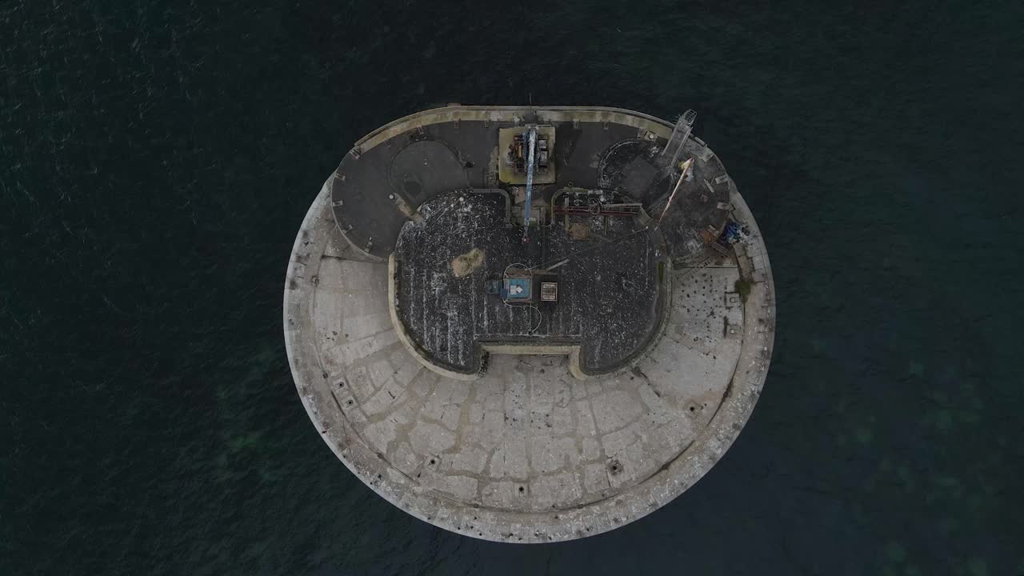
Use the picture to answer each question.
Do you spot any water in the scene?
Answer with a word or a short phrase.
Yes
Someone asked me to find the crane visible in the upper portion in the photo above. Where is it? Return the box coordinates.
[510,120,552,243]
